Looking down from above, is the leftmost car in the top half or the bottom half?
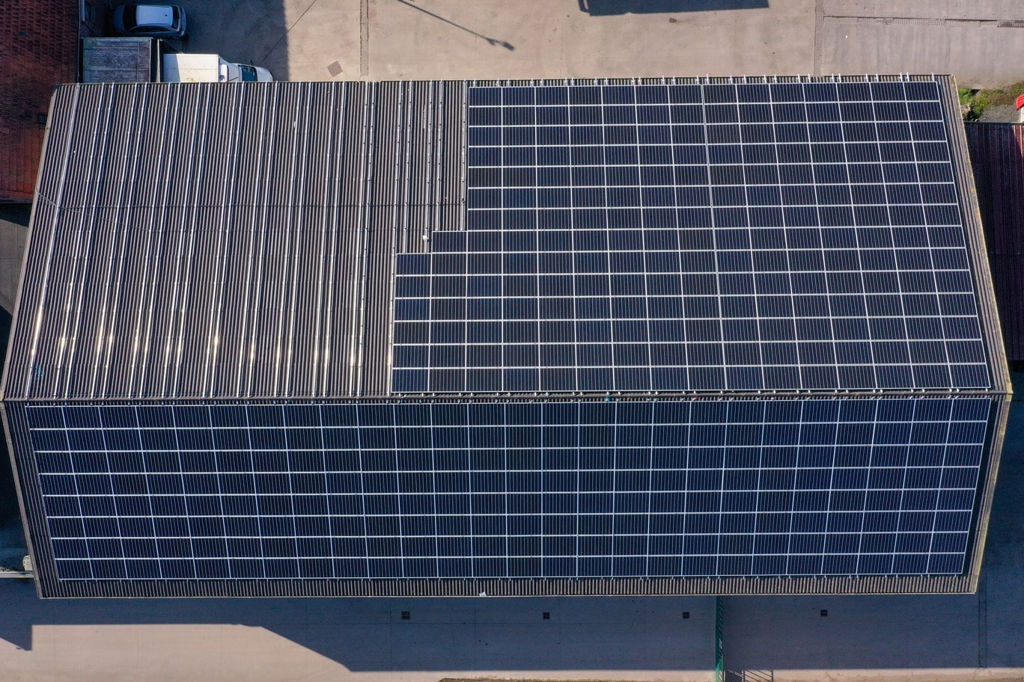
top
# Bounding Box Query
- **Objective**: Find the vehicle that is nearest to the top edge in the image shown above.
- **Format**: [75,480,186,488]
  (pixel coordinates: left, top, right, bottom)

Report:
[114,0,190,40]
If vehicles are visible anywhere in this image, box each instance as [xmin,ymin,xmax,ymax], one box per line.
[163,53,278,82]
[114,0,190,40]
